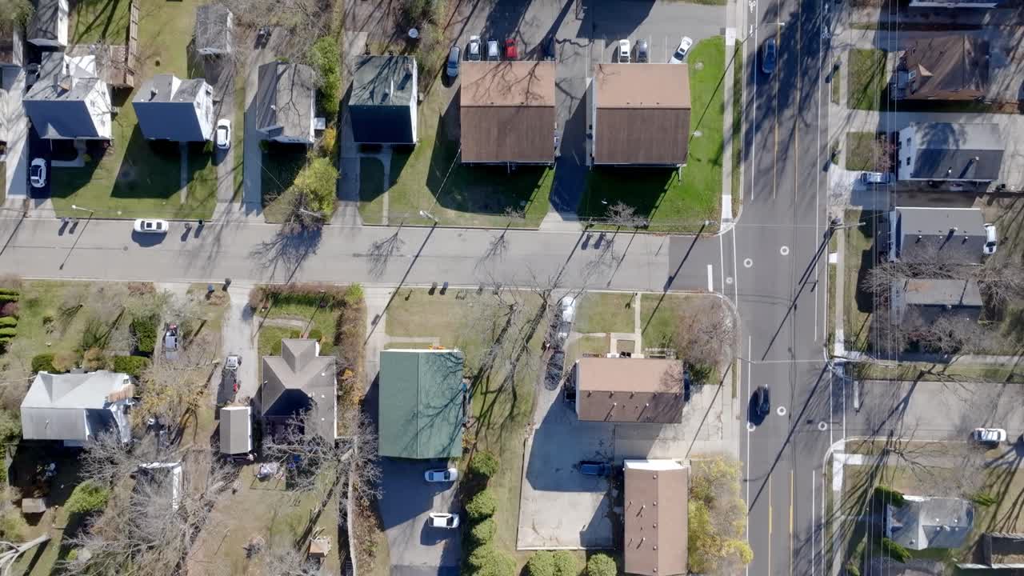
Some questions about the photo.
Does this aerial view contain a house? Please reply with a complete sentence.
Yes, the image includes a house.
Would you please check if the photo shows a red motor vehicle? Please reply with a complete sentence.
Yes, a red motor vehicle appears in the view.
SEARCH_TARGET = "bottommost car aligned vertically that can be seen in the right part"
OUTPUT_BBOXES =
[754,382,772,417]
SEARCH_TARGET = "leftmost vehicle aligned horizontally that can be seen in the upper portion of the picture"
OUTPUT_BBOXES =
[134,218,169,234]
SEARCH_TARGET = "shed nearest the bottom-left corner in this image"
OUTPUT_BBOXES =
[20,496,51,513]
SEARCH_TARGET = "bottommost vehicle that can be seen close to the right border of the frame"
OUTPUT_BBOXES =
[972,427,1007,444]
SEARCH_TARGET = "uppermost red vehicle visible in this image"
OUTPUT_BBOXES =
[503,36,519,61]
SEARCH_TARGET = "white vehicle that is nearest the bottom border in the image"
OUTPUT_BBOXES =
[427,512,462,529]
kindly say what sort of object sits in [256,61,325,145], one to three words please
house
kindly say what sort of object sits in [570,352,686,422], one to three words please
building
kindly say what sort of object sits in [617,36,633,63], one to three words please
car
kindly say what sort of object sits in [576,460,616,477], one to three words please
vehicle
